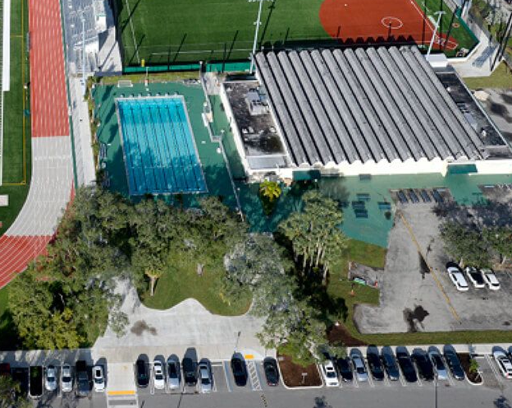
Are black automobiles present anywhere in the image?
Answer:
Yes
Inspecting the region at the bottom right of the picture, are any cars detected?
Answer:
Yes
